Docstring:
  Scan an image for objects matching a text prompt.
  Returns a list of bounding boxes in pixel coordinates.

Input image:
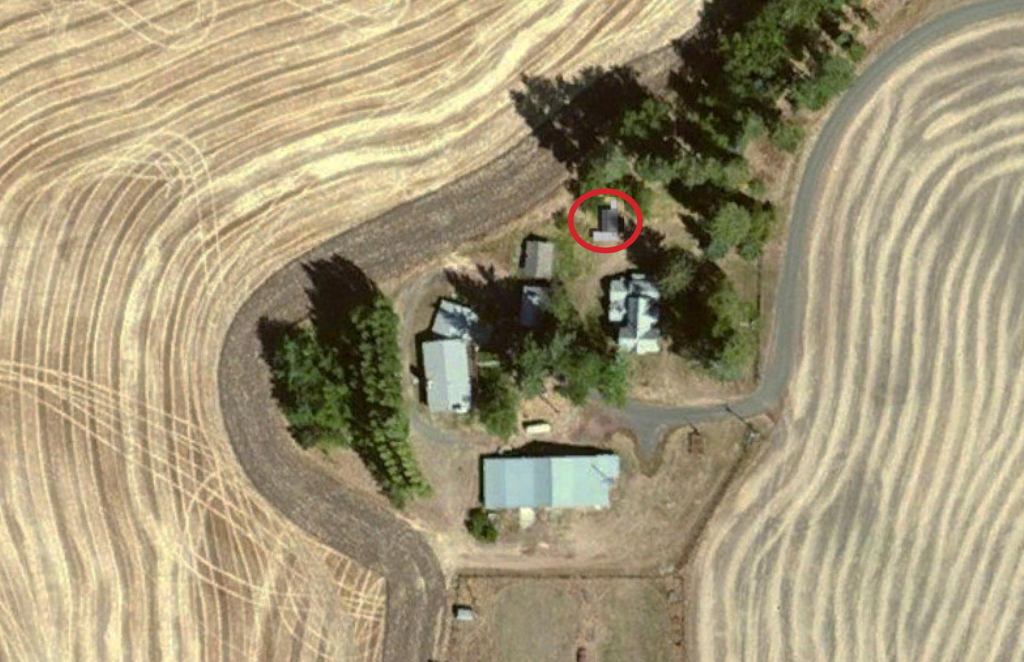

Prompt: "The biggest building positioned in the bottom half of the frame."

[484,454,620,509]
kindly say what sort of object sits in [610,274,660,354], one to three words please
house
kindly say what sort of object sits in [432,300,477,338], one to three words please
shed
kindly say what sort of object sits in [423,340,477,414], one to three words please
building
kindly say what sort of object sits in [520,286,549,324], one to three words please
shed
